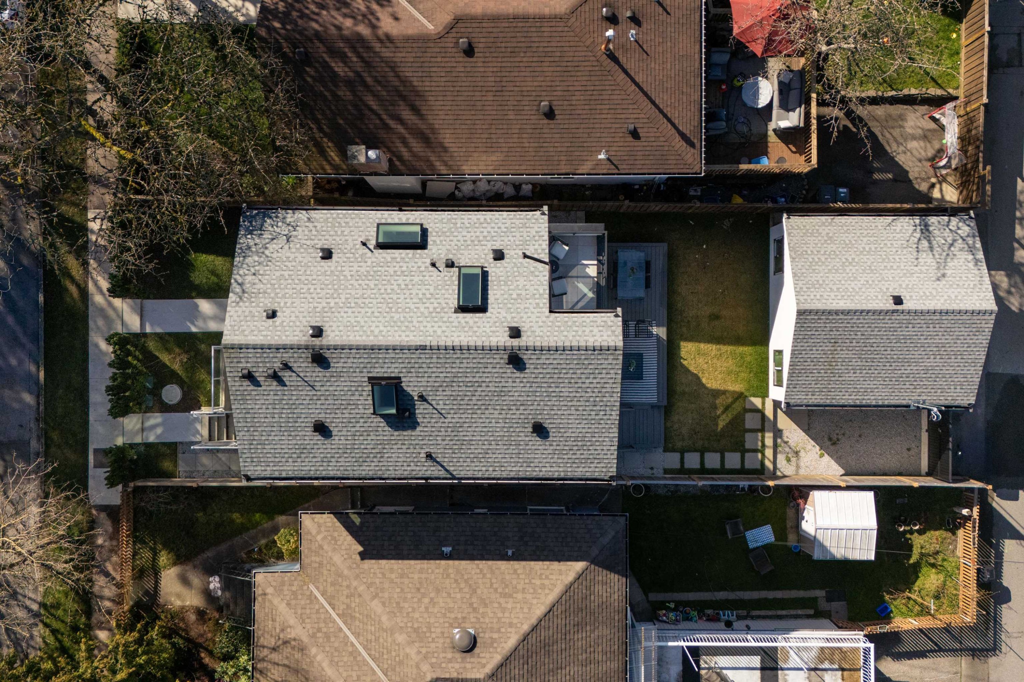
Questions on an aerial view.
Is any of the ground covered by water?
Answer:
No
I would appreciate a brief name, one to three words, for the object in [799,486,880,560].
shed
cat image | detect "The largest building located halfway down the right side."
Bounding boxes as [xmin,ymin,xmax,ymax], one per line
[767,209,994,429]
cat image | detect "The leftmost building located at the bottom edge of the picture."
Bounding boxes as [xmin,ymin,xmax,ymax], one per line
[219,505,631,682]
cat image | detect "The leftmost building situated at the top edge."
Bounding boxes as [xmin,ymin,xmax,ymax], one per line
[260,0,708,201]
